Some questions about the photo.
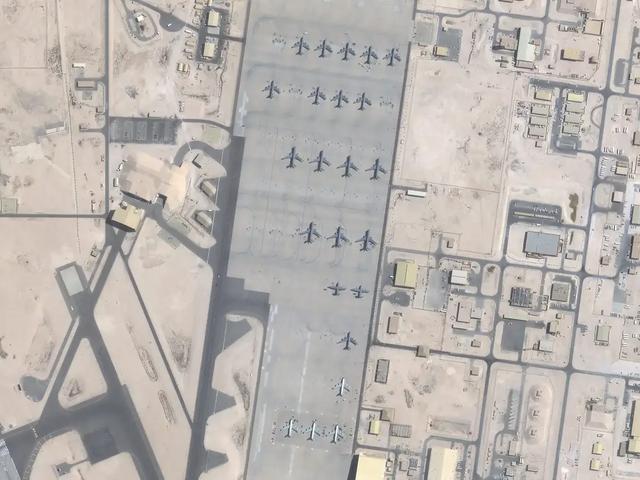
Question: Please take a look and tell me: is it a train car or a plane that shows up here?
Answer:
plane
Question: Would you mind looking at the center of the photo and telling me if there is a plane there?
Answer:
Yes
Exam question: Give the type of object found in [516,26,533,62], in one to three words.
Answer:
building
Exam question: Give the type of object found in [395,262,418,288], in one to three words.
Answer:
hangar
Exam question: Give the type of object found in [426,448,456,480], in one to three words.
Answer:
hangar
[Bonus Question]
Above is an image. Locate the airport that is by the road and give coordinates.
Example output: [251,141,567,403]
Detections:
[0,0,417,480]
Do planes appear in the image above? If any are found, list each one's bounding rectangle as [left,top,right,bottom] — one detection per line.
[326,425,344,443]
[338,42,355,60]
[337,156,358,177]
[338,332,356,350]
[281,419,299,438]
[303,422,321,441]
[382,48,401,66]
[331,89,348,108]
[356,230,376,251]
[328,227,348,248]
[300,222,321,243]
[291,36,309,55]
[308,86,325,104]
[309,151,330,172]
[282,147,302,168]
[314,39,332,57]
[328,282,346,296]
[353,92,371,111]
[365,158,386,180]
[262,81,279,99]
[351,285,369,298]
[332,378,349,396]
[360,46,378,64]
